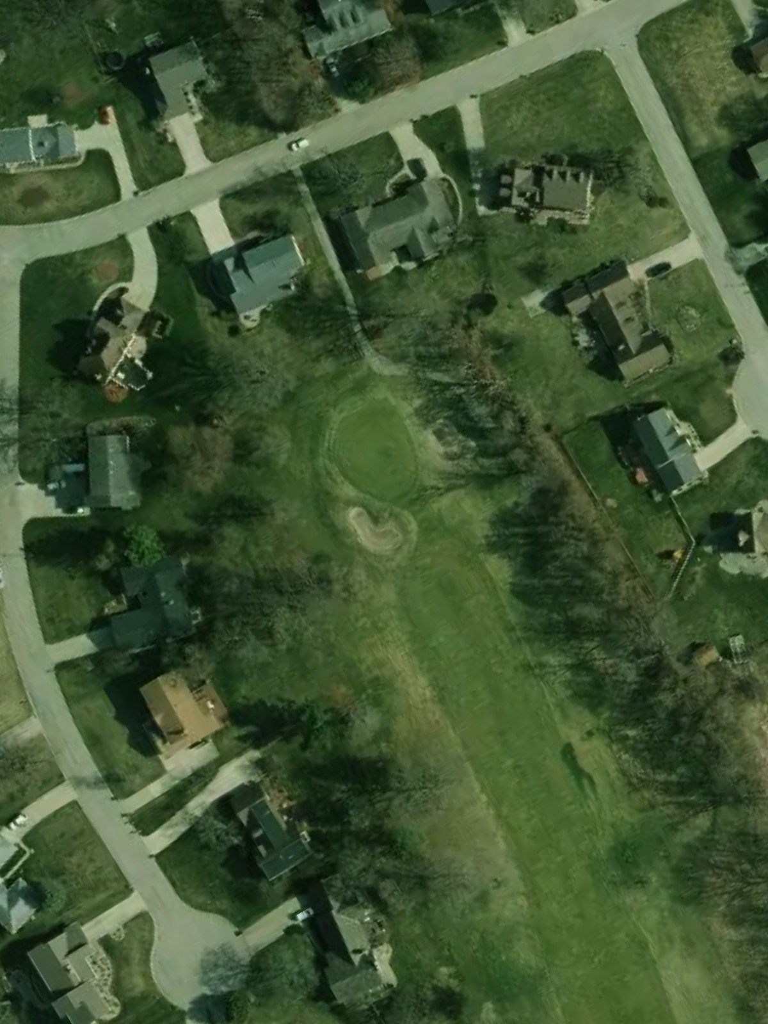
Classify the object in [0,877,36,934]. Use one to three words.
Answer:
house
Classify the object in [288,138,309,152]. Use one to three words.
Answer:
car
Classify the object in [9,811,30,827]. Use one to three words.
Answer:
vehicle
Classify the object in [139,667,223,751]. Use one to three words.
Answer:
house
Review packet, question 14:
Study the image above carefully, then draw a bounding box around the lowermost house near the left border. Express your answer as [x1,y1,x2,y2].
[27,921,115,1024]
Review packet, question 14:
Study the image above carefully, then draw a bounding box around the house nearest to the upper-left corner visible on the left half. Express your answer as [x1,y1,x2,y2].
[0,122,78,166]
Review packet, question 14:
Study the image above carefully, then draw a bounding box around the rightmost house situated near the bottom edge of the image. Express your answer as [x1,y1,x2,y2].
[313,869,379,1006]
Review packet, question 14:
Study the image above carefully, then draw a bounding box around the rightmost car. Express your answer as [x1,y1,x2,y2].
[648,263,669,277]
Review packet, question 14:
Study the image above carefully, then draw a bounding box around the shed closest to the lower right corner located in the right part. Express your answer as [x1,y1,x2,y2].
[692,642,720,668]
